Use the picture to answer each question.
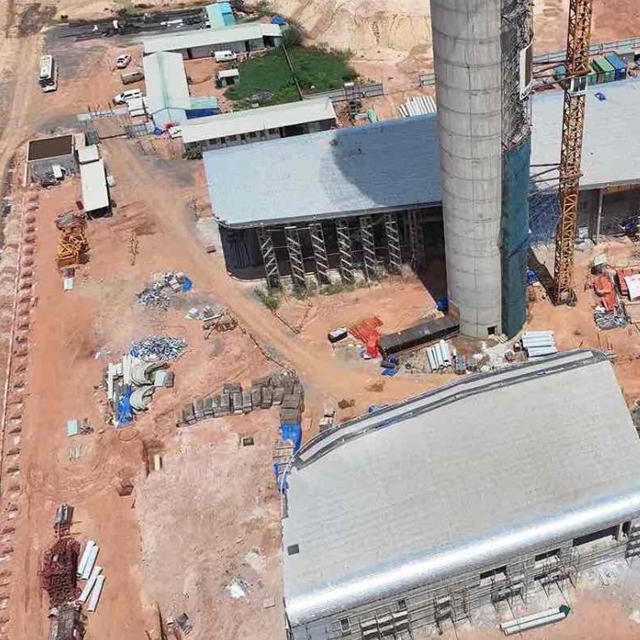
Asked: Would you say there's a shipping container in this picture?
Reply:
Yes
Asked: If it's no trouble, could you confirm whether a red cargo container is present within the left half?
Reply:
No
